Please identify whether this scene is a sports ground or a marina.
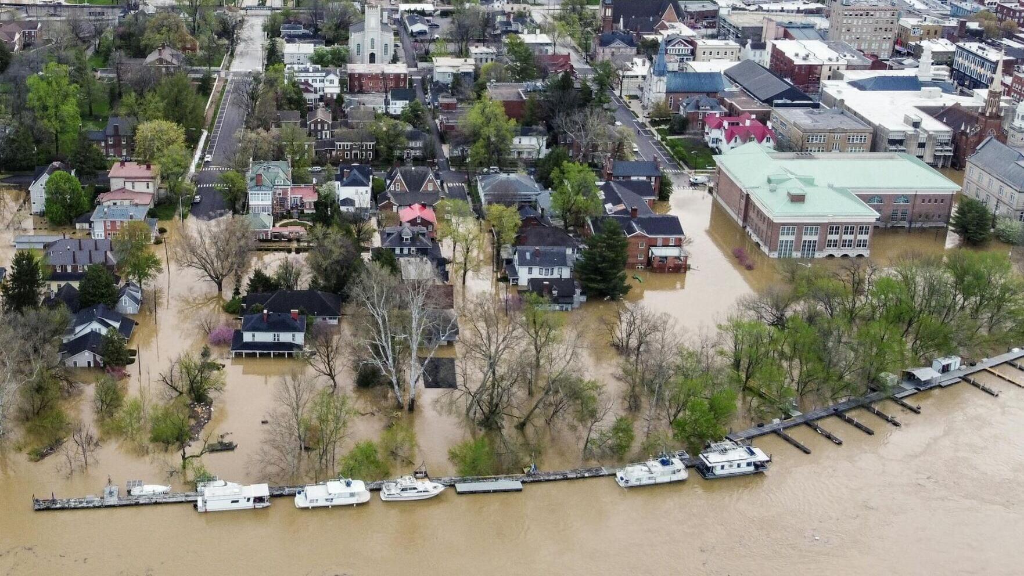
marina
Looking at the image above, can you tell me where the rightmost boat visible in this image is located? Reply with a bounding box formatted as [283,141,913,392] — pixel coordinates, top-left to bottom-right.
[693,439,773,478]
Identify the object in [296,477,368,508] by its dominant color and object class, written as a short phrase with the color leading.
white boat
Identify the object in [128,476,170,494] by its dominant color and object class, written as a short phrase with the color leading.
white boat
